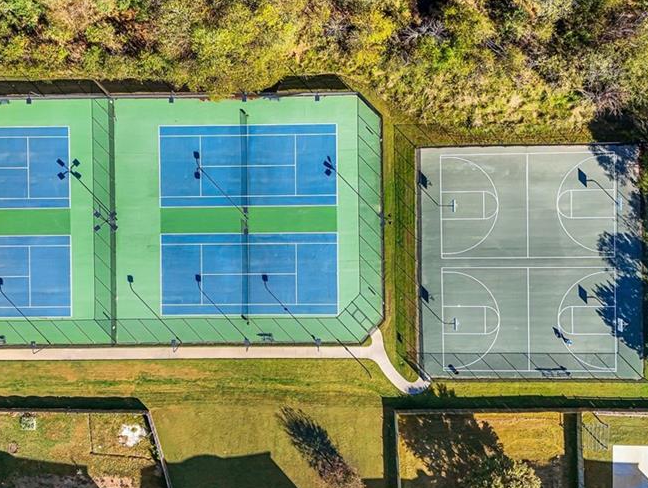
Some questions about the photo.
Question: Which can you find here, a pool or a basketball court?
basketball court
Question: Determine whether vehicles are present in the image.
No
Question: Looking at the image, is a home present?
No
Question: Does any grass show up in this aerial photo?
Yes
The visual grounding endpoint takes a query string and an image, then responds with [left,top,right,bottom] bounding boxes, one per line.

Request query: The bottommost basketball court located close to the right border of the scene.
[441,267,619,373]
